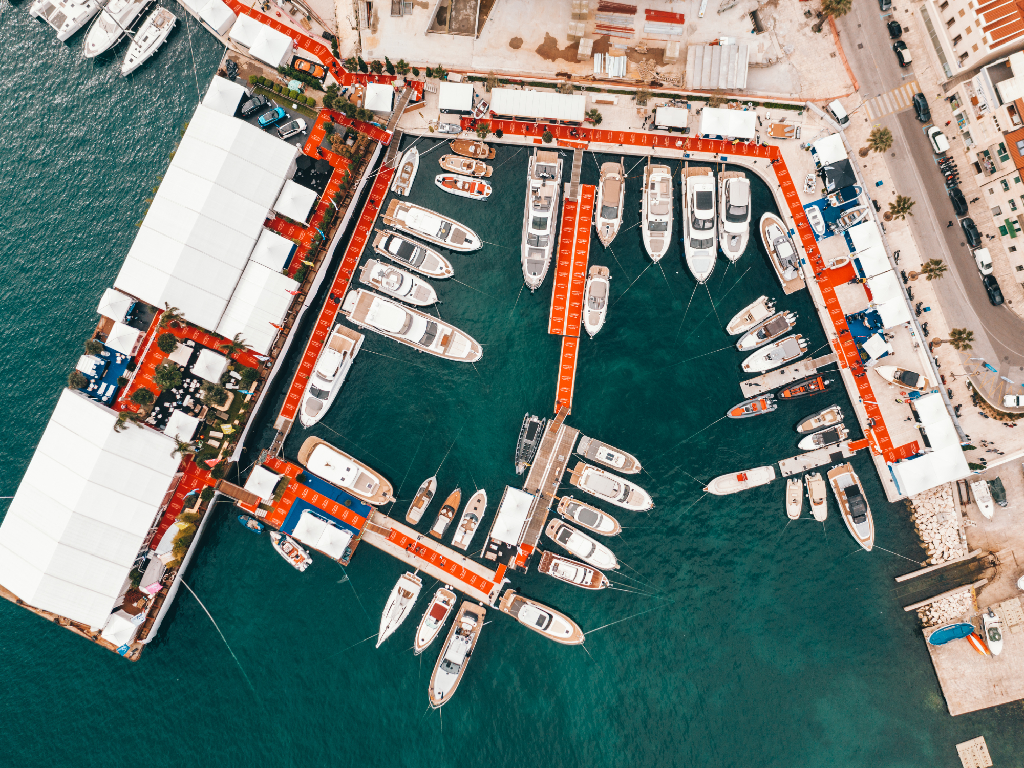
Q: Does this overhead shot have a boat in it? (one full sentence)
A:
Yes, the photo shows a boat.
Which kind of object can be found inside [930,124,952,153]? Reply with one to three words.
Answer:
car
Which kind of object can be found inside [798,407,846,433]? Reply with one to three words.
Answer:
boat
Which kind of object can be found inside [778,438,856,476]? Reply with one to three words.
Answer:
pier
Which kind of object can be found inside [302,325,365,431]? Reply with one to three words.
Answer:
boat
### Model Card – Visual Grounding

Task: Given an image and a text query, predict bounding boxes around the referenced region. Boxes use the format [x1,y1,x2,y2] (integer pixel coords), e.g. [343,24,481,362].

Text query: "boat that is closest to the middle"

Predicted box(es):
[515,417,544,474]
